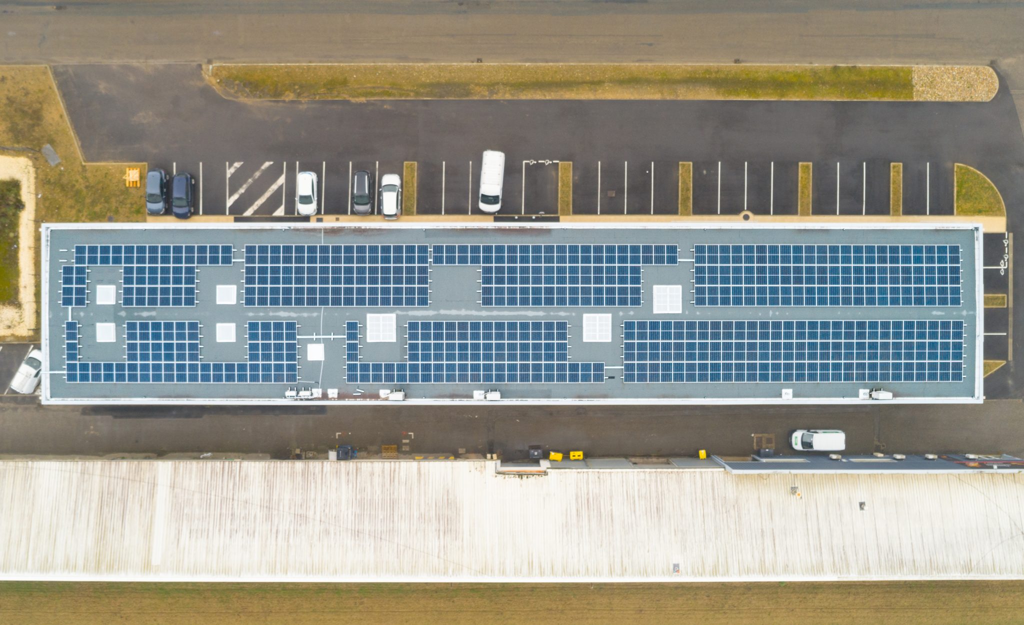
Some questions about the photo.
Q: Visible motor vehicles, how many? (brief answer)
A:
8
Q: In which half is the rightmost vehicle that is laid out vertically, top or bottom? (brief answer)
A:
top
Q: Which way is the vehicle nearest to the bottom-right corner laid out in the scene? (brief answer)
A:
from side to side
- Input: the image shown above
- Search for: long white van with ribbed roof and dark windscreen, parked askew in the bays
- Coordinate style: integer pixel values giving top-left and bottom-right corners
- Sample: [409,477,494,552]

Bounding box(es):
[476,150,502,213]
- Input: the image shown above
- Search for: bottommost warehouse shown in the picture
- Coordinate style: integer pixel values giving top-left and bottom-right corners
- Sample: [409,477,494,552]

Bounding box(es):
[0,451,1024,581]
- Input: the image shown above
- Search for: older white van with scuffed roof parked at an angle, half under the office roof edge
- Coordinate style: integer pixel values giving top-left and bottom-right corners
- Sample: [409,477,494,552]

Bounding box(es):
[11,347,41,393]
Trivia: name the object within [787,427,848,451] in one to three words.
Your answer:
vehicle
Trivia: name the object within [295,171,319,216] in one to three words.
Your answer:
car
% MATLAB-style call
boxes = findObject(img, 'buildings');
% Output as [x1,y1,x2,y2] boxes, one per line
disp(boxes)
[41,223,984,404]
[0,451,1024,581]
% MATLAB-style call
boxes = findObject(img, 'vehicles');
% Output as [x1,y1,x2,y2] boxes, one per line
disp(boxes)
[787,427,848,451]
[295,171,319,216]
[378,173,401,220]
[168,171,196,221]
[476,150,502,213]
[350,169,374,217]
[11,347,41,393]
[143,168,170,215]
